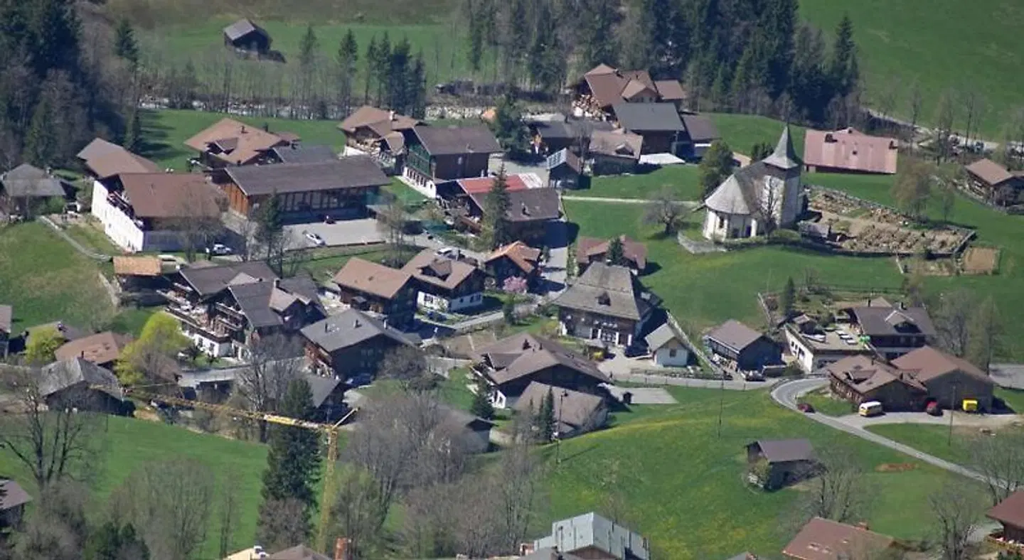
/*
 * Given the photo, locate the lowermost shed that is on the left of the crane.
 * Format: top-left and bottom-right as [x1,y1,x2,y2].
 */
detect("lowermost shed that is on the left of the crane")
[0,480,32,526]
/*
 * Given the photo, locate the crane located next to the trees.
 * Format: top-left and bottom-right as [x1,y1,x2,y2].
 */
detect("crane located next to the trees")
[125,387,360,560]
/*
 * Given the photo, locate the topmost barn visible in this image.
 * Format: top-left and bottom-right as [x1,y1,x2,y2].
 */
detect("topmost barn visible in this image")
[224,17,276,55]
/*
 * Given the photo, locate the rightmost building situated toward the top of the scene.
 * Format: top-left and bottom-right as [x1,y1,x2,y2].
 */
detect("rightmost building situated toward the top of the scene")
[965,158,1024,201]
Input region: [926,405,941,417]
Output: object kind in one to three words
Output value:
vehicle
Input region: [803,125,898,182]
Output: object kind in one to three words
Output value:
barn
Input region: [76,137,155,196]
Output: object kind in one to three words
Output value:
house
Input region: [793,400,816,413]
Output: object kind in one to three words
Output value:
vehicle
